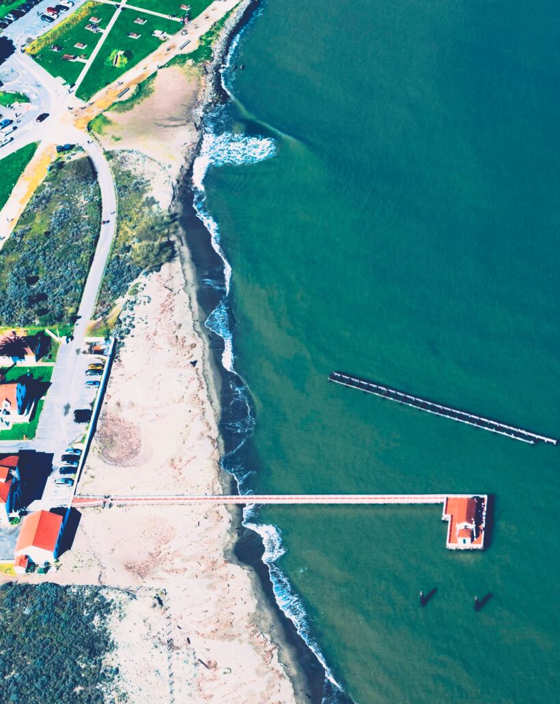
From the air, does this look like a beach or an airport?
beach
